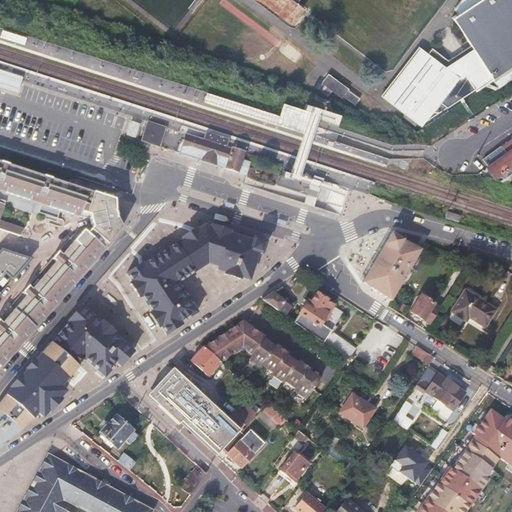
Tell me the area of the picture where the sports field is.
top right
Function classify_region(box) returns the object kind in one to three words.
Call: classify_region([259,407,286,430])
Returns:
house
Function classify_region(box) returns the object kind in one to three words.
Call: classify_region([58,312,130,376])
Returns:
building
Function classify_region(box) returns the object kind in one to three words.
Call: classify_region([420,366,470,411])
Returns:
house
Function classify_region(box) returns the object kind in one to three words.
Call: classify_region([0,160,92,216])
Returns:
building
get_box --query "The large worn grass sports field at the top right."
[310,0,441,71]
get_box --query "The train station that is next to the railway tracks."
[0,30,392,194]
